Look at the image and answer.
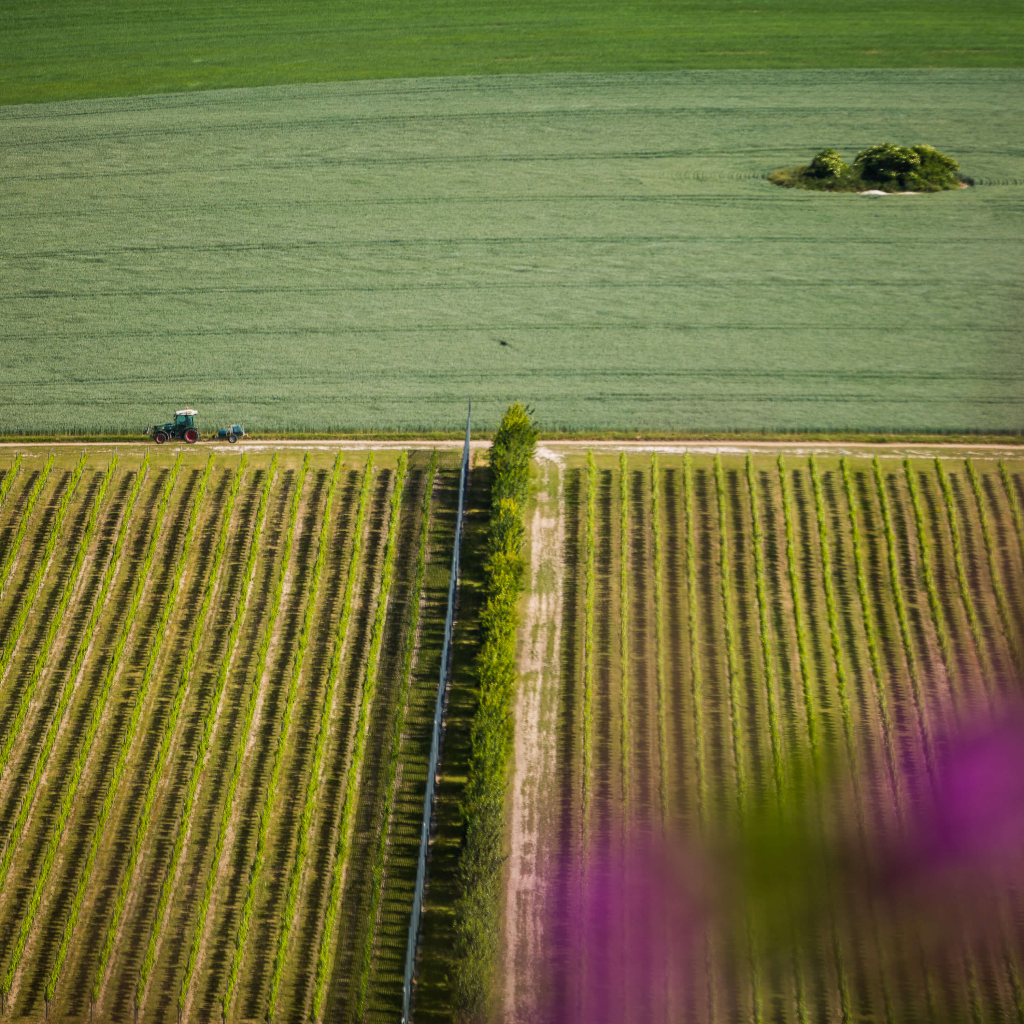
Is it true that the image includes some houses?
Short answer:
No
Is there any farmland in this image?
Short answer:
Yes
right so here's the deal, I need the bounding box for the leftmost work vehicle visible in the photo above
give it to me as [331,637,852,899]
[143,406,203,443]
